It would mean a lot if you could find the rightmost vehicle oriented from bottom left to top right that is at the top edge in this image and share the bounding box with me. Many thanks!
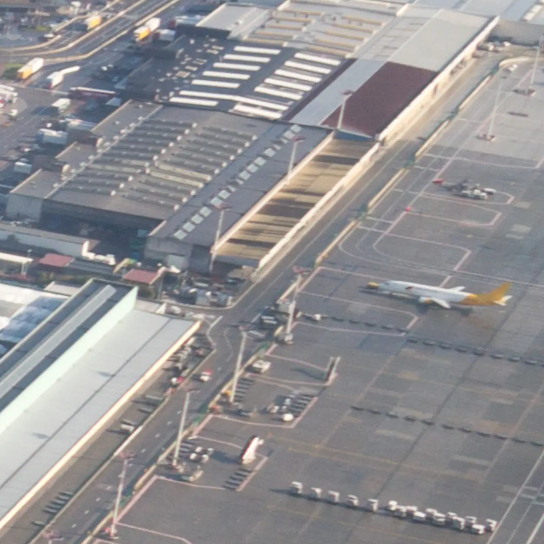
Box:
[137,20,158,39]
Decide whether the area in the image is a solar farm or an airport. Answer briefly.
airport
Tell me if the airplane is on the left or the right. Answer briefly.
right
